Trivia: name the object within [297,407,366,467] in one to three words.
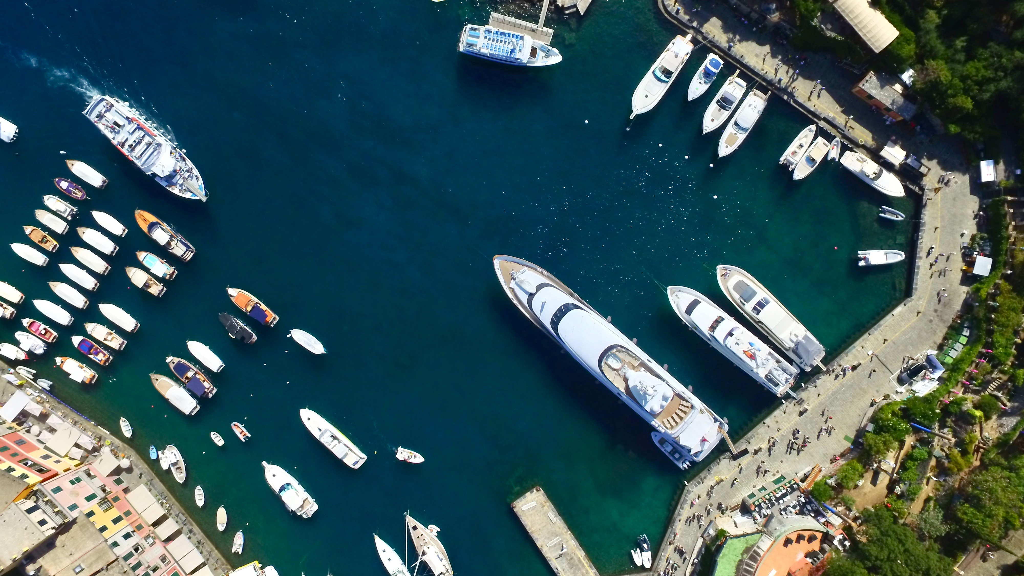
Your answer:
boat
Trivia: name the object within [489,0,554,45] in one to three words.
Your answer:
pier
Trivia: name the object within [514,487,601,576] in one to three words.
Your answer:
pier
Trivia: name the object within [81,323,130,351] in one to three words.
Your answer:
boat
